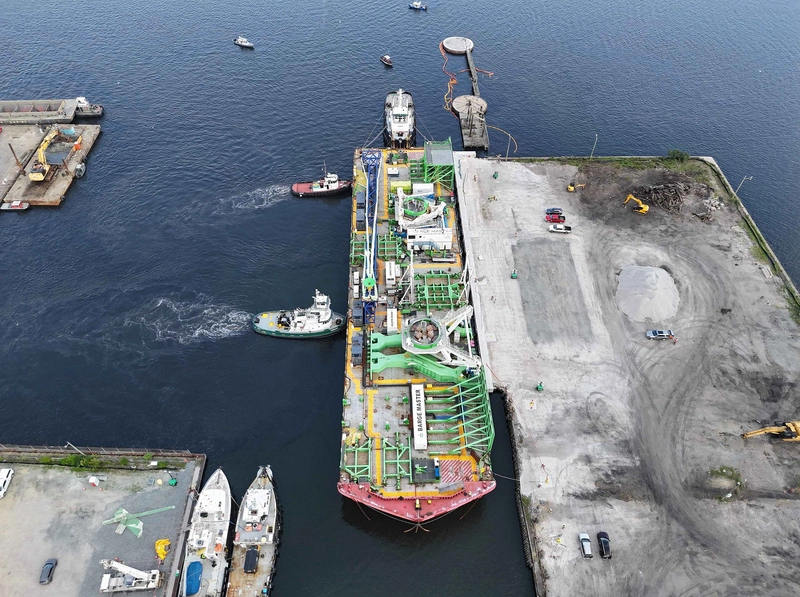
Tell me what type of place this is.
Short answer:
port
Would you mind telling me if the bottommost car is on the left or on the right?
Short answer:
left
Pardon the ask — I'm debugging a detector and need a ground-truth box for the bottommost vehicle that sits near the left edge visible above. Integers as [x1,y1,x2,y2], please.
[34,559,58,588]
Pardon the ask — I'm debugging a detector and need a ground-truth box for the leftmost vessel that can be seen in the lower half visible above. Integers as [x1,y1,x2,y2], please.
[170,467,232,597]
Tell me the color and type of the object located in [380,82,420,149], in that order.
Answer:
white boat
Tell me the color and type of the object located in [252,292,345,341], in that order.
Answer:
white boat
